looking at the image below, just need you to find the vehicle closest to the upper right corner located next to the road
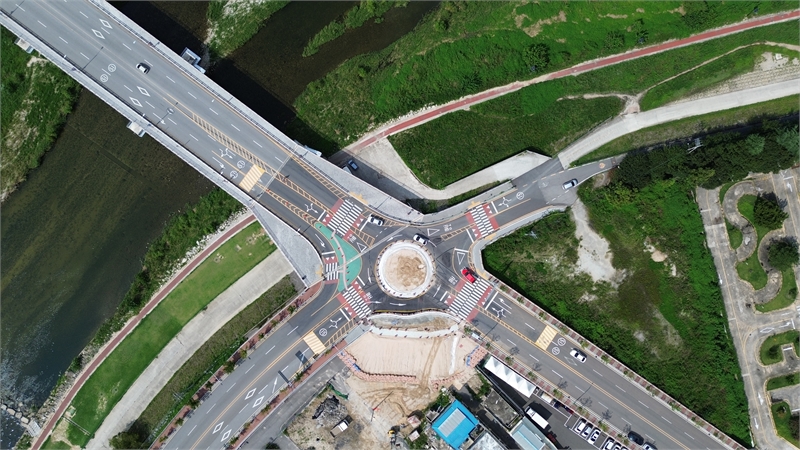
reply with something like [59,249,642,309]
[561,178,579,191]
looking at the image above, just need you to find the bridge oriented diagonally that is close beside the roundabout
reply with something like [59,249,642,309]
[0,0,352,209]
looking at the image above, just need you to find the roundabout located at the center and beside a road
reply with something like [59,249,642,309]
[255,152,567,322]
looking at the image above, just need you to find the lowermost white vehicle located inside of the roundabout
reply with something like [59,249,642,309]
[412,234,428,247]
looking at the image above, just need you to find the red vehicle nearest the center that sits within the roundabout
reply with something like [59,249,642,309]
[459,266,478,285]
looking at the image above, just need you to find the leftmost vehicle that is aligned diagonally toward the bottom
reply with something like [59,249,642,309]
[330,420,350,438]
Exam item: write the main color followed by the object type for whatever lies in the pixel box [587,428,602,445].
white car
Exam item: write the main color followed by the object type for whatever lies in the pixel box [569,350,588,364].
white car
